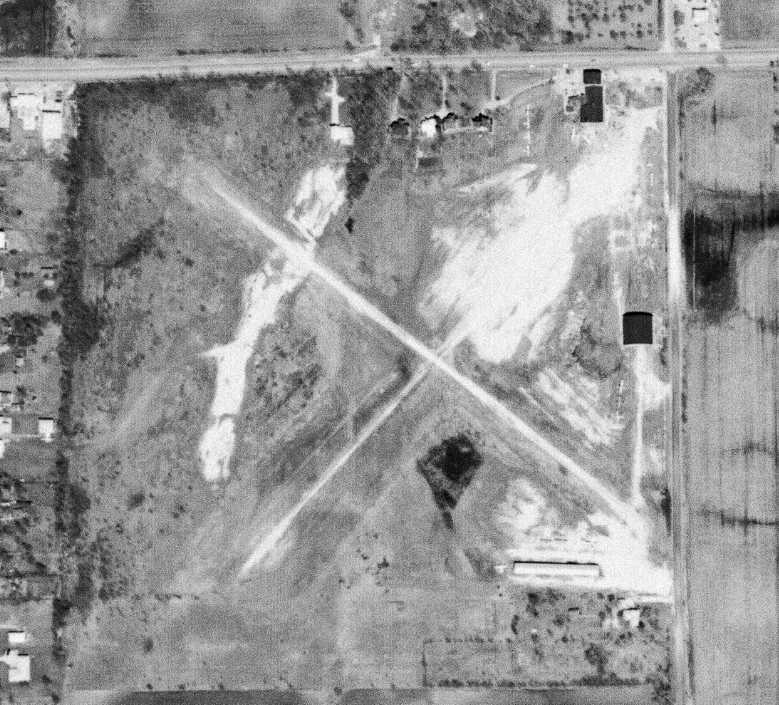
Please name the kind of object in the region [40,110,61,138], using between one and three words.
building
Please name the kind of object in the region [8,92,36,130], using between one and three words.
building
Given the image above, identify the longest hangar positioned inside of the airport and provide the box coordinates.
[514,563,601,578]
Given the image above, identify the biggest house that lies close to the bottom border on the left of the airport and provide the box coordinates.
[8,650,30,683]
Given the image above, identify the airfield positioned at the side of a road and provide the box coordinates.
[58,69,673,691]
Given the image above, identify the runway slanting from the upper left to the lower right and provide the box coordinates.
[215,185,642,513]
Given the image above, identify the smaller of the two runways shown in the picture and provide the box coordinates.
[243,354,441,572]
